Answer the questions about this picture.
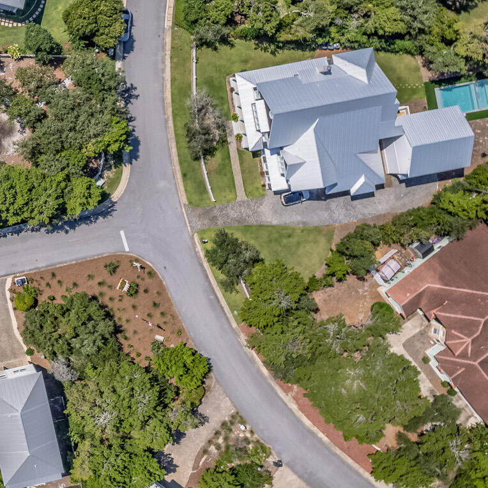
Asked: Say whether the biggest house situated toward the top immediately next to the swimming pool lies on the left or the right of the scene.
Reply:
right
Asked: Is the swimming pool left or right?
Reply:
right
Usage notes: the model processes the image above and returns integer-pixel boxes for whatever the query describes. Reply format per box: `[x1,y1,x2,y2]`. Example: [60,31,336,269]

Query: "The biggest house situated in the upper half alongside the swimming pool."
[224,48,415,195]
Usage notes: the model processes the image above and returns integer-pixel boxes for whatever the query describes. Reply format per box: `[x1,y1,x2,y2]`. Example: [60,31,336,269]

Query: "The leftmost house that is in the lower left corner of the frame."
[0,355,67,488]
